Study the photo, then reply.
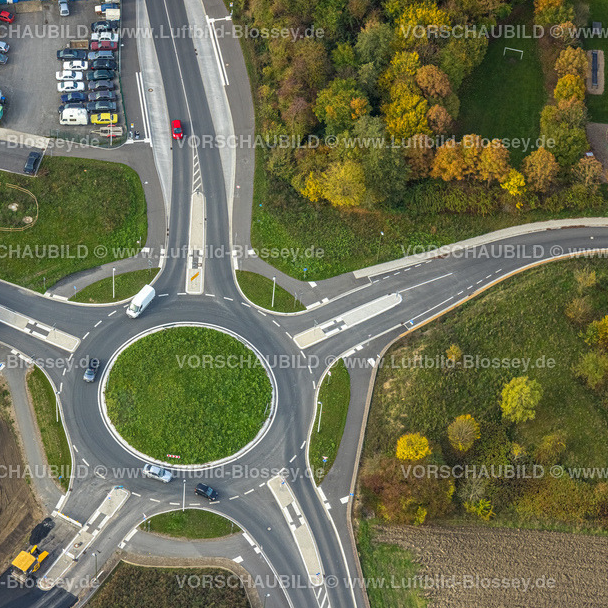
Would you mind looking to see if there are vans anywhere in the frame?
Yes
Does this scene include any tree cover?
Yes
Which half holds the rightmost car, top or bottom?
bottom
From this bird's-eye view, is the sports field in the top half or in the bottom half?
top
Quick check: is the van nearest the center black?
No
